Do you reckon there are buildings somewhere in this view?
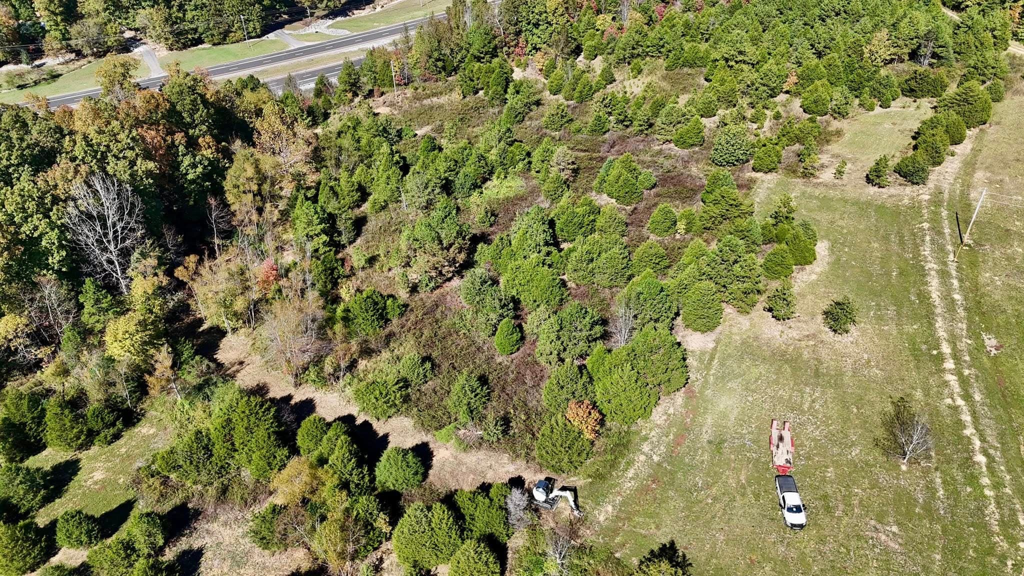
No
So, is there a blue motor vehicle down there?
No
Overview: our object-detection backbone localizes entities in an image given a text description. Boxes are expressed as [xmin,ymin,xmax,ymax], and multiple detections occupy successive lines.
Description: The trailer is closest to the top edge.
[767,418,800,476]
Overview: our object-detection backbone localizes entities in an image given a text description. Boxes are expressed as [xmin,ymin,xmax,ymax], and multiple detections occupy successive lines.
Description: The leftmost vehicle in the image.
[528,476,581,518]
